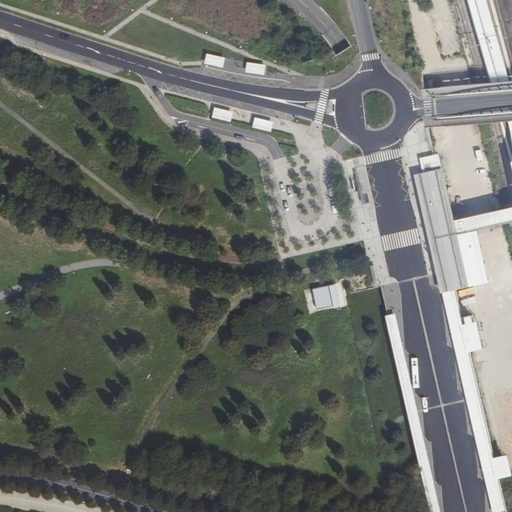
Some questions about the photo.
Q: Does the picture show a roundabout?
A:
Yes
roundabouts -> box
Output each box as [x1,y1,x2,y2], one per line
[324,62,424,165]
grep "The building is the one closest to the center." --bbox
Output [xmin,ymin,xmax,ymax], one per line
[304,280,348,314]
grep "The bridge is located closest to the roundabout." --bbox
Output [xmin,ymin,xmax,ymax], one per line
[424,81,512,128]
